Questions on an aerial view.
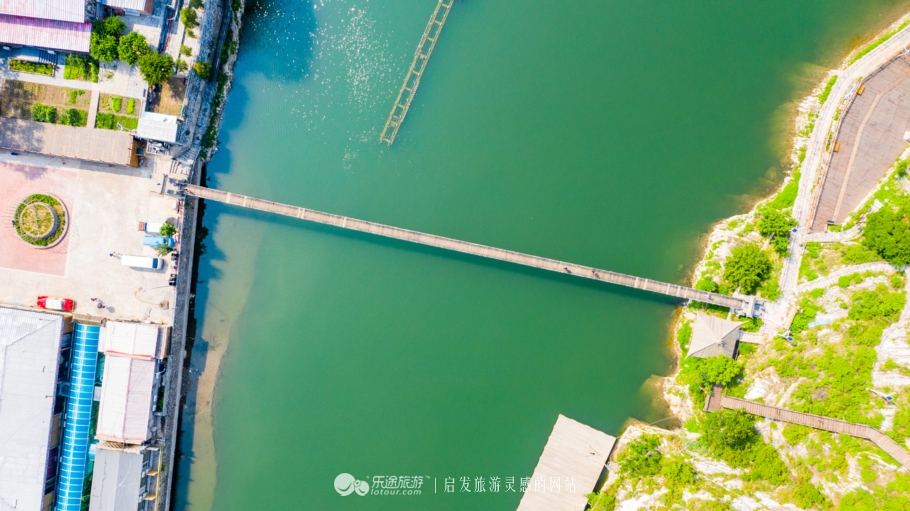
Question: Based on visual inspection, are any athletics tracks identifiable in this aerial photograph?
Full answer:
No, the frame has no athletics track in it.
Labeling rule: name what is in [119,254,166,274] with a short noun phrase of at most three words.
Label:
vehicle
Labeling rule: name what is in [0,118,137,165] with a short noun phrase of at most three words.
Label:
building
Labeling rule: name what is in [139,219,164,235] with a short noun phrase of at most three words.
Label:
vehicle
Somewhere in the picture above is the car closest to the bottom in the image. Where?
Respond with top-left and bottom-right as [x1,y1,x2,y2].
[36,295,75,313]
